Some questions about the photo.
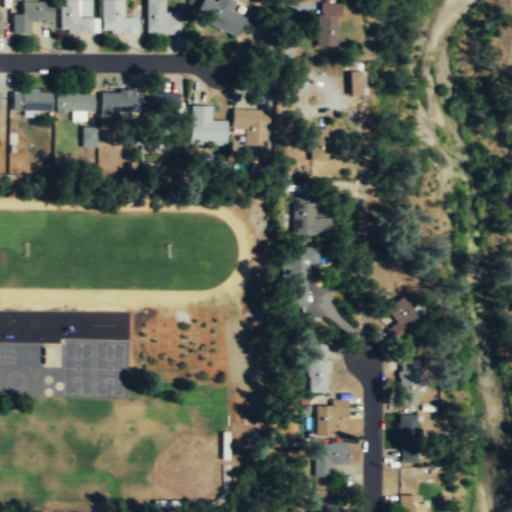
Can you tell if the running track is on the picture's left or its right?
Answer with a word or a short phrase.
left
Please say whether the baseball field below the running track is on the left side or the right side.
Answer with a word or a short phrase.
left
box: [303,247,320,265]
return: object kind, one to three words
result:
house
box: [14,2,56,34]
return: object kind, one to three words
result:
house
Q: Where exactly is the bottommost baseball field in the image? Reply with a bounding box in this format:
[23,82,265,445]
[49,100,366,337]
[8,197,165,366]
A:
[0,384,228,512]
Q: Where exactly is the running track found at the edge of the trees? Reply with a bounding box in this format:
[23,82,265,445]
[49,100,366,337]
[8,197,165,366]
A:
[0,199,248,312]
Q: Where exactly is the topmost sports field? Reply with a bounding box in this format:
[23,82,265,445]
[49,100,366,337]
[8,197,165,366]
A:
[0,211,238,290]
